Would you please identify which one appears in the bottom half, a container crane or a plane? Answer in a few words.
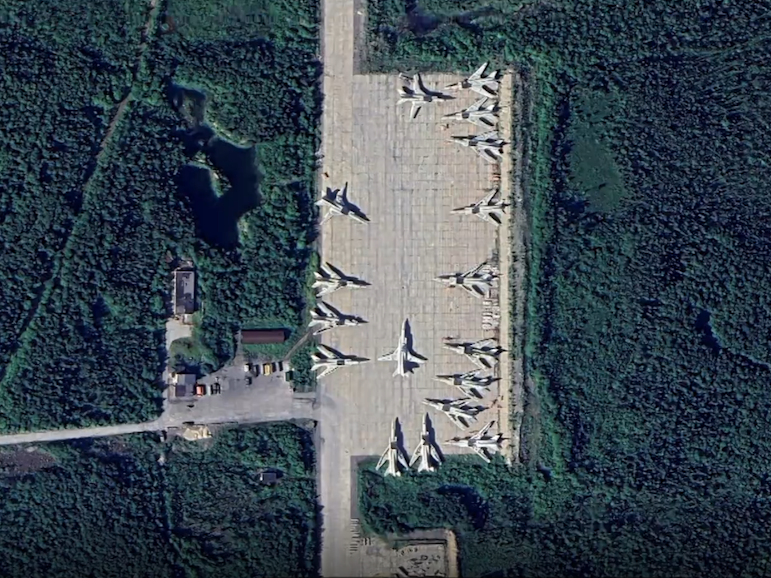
plane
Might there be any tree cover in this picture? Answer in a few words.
Yes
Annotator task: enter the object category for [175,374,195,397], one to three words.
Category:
building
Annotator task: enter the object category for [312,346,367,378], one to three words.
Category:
airplane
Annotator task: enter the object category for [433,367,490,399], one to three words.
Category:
airplane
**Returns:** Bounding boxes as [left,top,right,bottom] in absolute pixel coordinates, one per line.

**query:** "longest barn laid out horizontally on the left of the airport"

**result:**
[242,330,285,343]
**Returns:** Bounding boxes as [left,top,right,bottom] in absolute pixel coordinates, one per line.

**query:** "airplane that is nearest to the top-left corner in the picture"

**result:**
[317,186,367,224]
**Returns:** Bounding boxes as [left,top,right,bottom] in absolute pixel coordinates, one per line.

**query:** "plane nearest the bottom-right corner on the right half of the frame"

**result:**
[443,422,501,461]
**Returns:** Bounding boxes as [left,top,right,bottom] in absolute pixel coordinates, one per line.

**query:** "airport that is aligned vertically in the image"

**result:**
[316,0,513,578]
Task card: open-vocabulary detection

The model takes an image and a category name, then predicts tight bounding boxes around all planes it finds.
[422,397,480,429]
[317,186,367,224]
[443,422,501,461]
[376,418,407,476]
[433,367,490,399]
[445,68,500,99]
[410,415,440,472]
[312,346,367,378]
[442,96,499,128]
[312,266,367,297]
[434,260,490,296]
[450,129,504,159]
[398,76,450,119]
[380,320,426,376]
[450,190,504,223]
[309,304,364,335]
